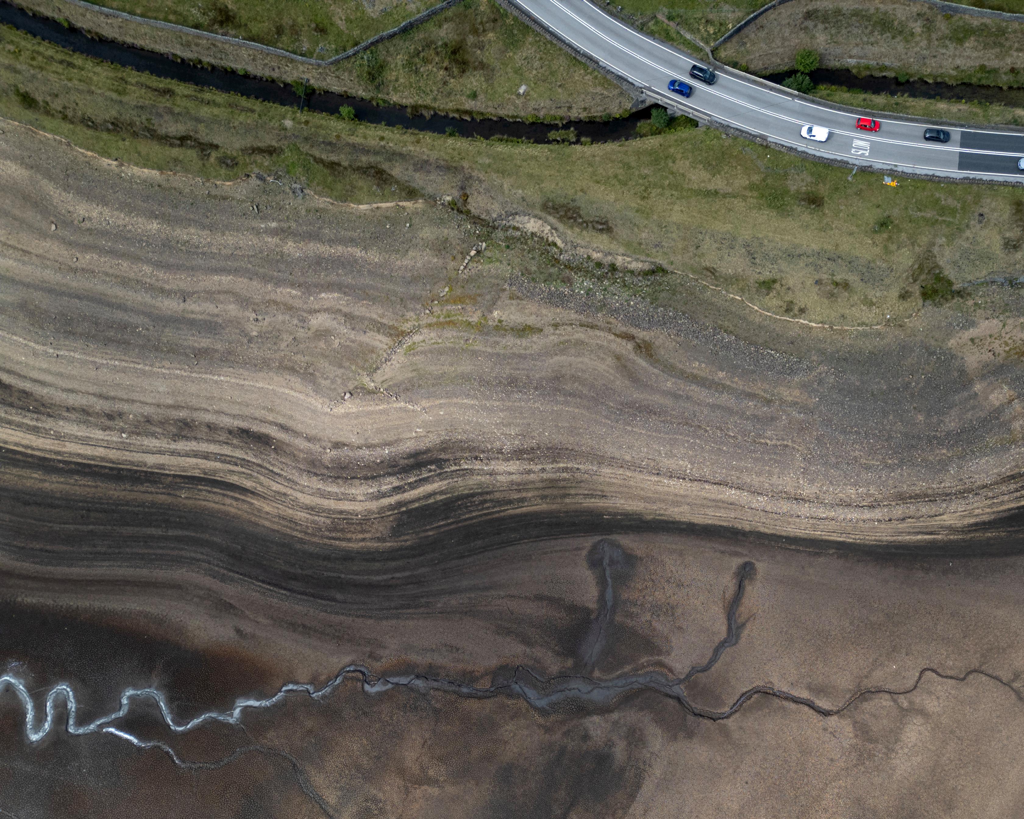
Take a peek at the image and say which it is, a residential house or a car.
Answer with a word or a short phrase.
car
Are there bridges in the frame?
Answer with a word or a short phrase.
Yes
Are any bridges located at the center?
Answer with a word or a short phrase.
No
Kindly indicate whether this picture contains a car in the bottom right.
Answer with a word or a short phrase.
No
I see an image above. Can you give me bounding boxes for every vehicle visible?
[669,81,693,98]
[801,125,830,143]
[857,117,881,132]
[689,65,716,85]
[1019,159,1024,171]
[924,128,951,143]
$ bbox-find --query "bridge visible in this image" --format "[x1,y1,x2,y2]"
[635,69,801,125]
